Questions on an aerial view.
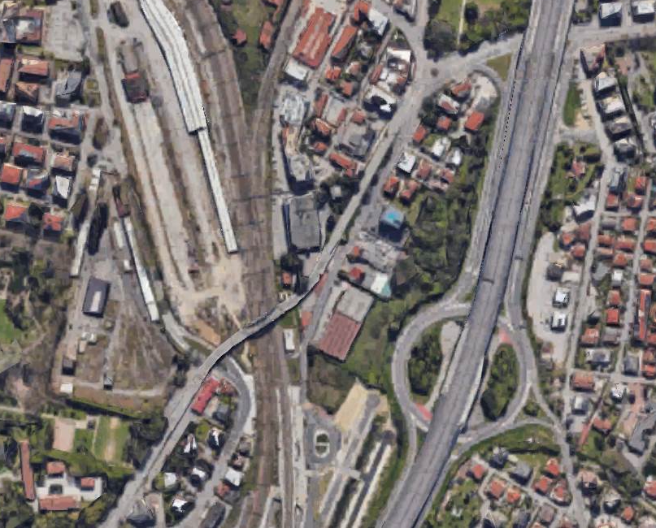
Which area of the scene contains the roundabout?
bottom right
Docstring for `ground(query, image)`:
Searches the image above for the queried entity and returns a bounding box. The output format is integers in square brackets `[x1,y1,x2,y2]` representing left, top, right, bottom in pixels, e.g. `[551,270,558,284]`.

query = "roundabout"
[389,249,566,528]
